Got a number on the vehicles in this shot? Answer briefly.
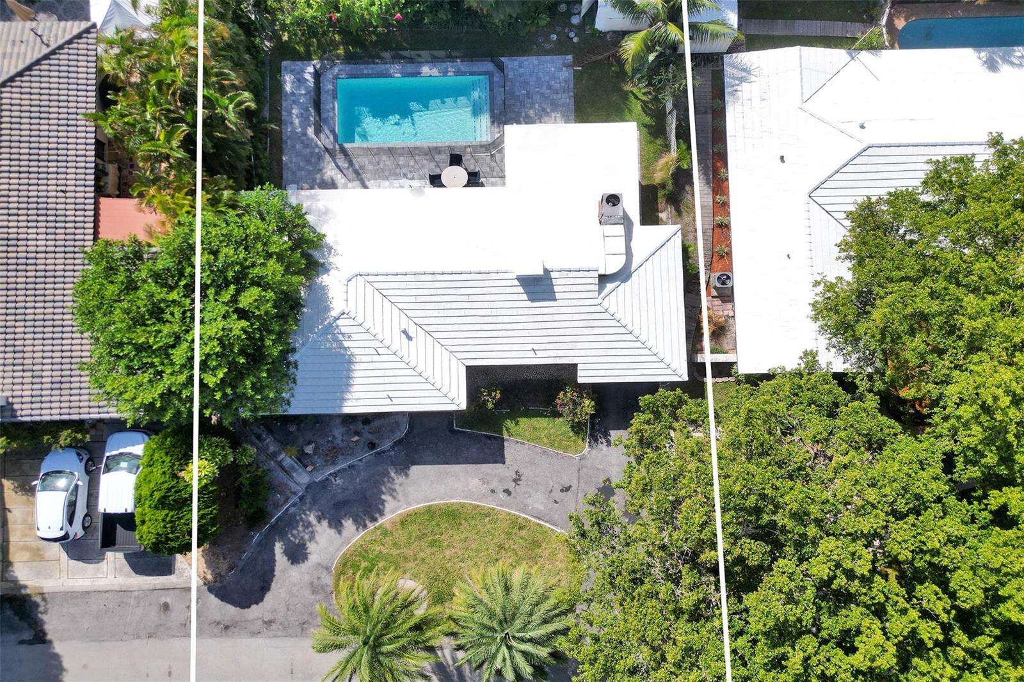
2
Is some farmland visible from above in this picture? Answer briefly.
No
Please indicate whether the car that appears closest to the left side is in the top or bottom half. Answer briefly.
bottom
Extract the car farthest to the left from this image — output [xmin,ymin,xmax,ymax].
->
[36,448,94,542]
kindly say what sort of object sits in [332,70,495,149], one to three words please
swimming pool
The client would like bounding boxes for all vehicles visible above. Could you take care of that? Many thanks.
[36,448,94,542]
[94,430,150,554]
